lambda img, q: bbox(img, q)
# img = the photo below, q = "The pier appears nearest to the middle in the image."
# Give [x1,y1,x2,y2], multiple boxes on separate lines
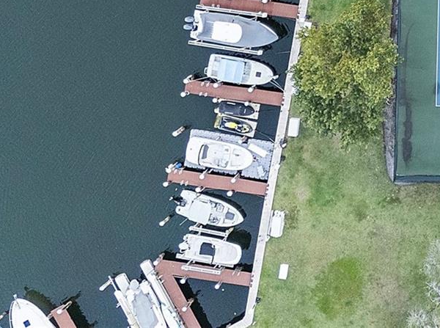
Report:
[167,171,268,195]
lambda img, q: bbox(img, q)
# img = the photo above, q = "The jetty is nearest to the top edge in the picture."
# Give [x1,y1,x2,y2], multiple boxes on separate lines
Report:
[201,0,298,18]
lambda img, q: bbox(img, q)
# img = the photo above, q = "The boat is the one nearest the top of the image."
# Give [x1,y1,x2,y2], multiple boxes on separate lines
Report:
[182,9,278,46]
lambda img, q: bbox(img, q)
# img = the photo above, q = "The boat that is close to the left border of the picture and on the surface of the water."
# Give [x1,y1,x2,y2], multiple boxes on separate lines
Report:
[10,296,66,328]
